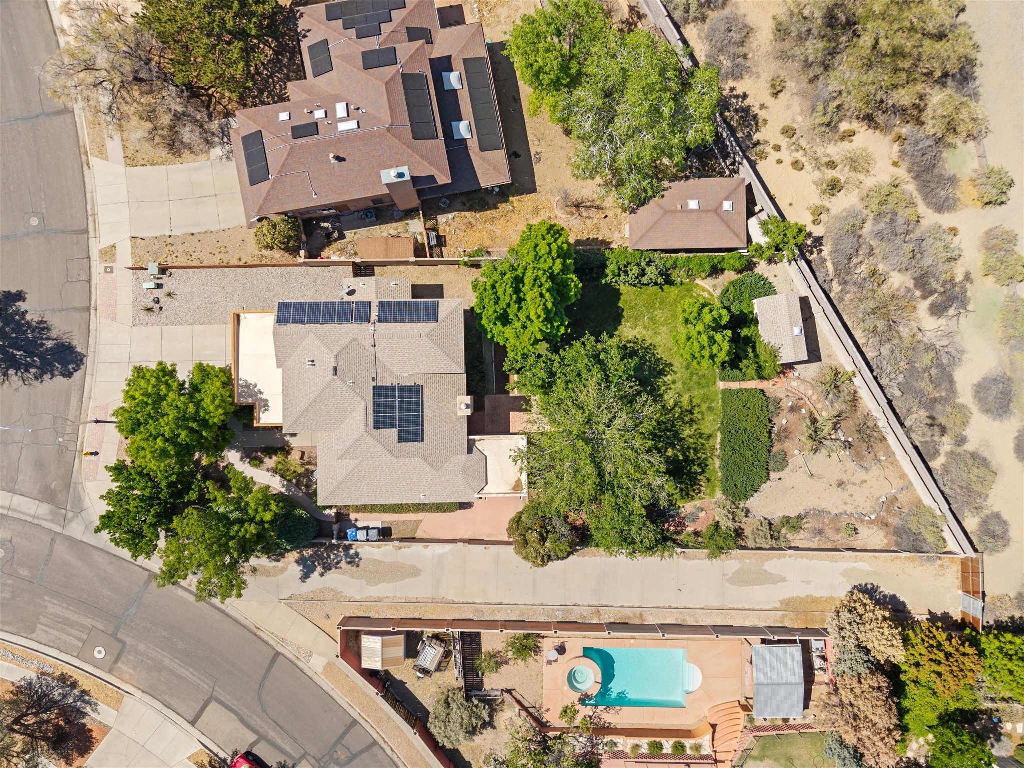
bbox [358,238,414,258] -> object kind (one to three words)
shed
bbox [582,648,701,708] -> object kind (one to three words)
swimming pool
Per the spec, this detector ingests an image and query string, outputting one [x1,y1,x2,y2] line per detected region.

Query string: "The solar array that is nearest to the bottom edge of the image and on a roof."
[373,386,421,443]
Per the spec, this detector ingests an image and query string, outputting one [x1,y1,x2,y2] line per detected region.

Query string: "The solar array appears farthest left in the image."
[242,131,270,185]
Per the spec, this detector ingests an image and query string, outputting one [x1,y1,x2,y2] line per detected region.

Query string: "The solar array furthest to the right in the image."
[463,58,502,151]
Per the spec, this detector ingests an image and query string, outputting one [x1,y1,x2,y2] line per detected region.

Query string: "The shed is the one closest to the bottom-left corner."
[361,629,407,671]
